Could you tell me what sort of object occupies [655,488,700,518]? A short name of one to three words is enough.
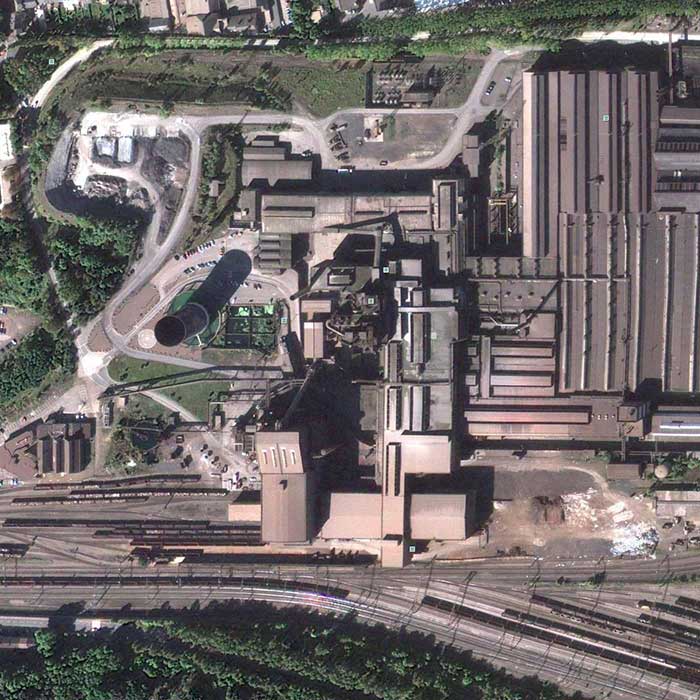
shed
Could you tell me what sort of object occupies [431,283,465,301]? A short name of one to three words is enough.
house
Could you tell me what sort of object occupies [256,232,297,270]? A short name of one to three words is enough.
shed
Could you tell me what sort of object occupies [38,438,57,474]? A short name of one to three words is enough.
building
